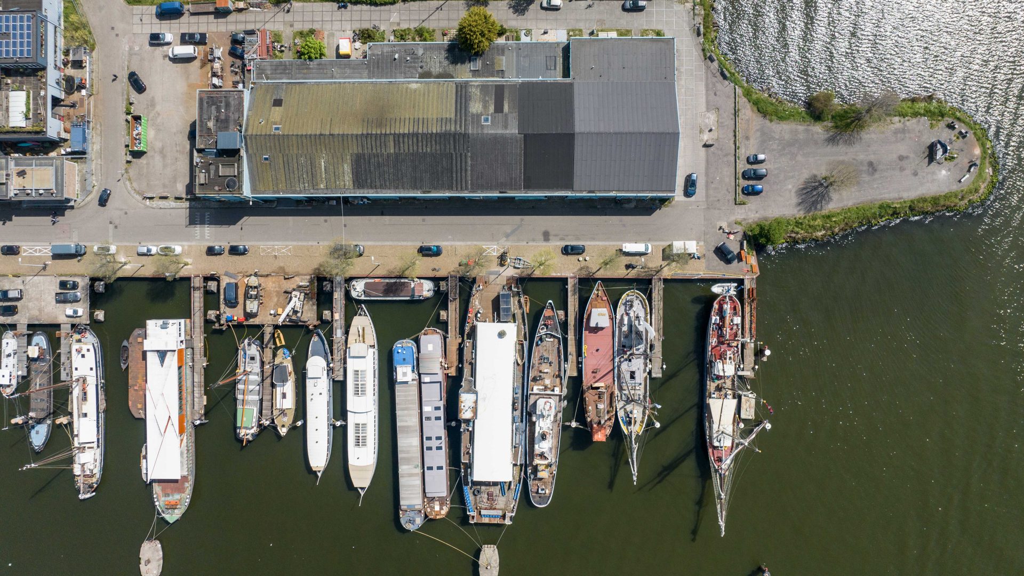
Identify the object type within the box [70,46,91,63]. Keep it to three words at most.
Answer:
shed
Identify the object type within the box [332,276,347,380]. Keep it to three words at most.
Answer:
pier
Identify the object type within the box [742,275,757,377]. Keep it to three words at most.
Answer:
pier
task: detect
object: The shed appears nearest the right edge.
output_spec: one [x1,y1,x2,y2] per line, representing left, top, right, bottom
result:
[927,139,962,169]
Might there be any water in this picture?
Yes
